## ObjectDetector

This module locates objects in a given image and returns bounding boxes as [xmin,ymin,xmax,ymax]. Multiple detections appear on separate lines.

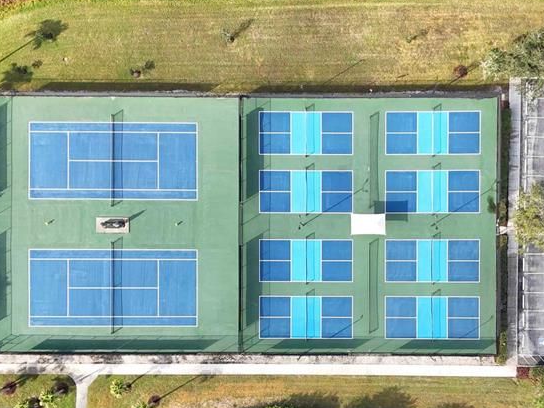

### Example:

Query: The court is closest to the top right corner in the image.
[386,107,480,158]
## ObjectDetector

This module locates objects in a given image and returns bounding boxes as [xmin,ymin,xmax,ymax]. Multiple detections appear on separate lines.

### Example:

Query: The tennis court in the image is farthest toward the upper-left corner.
[28,114,197,207]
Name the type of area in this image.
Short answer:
sports ground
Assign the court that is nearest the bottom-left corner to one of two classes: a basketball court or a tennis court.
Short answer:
tennis court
